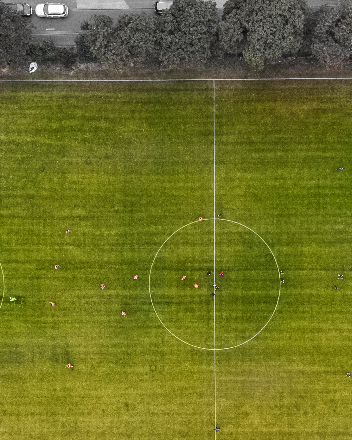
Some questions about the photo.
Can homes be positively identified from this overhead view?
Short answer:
No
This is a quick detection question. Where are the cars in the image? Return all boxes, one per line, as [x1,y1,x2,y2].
[35,1,67,18]
[155,2,173,17]
[5,1,33,18]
